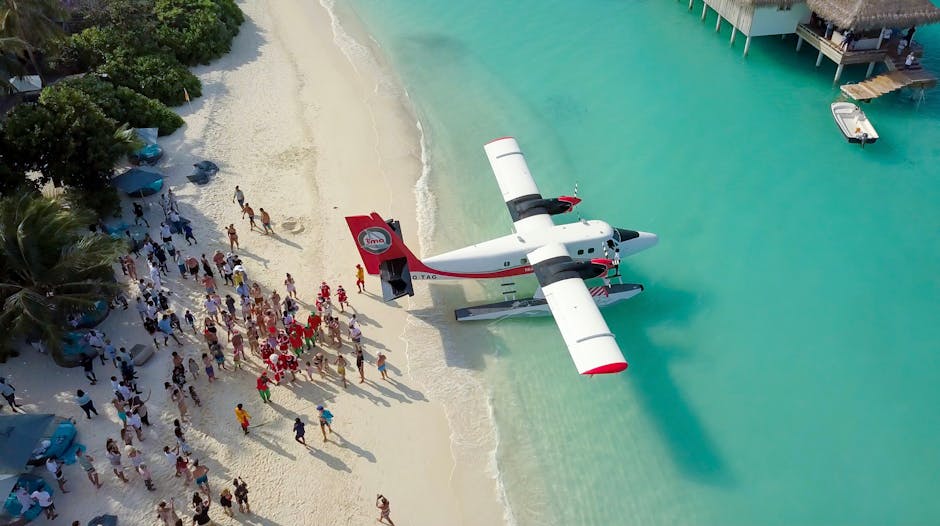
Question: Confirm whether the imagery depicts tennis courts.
No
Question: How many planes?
1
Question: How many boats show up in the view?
1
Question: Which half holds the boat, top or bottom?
top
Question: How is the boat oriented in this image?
diagonally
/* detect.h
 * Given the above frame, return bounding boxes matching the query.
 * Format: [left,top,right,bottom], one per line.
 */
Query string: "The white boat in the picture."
[832,98,879,147]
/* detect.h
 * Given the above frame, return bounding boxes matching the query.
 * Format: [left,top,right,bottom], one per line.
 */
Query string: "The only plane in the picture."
[345,137,658,373]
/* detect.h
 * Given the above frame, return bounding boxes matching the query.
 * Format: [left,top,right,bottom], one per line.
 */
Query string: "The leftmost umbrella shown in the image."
[0,408,58,476]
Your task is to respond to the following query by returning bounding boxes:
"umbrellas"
[0,408,58,476]
[135,129,169,164]
[107,167,168,211]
